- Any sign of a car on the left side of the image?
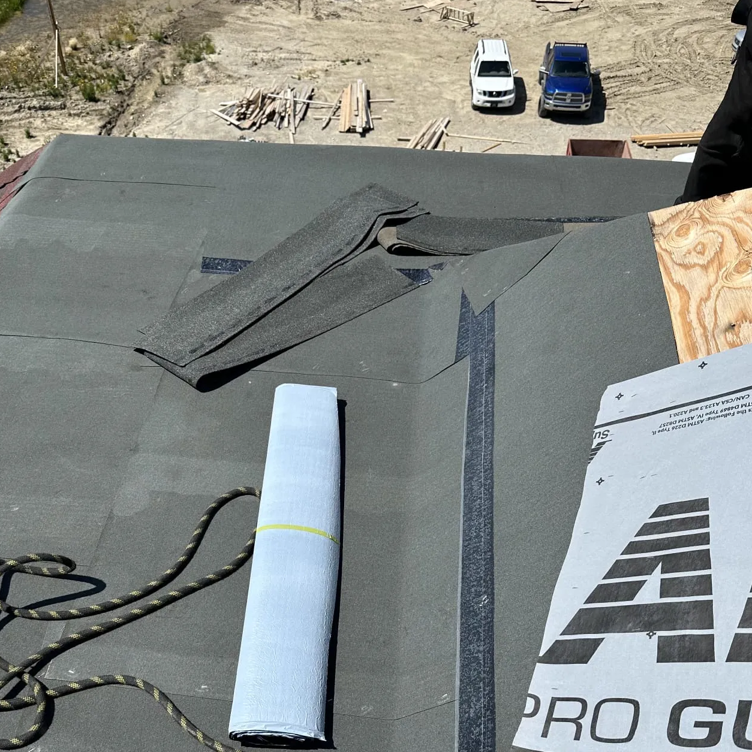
No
